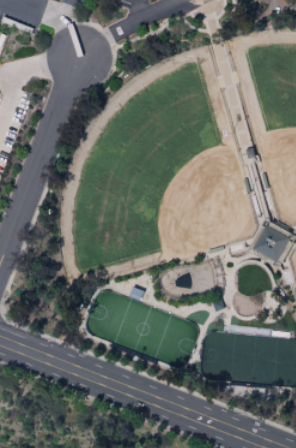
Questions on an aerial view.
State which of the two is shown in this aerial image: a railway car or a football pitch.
football pitch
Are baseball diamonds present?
Yes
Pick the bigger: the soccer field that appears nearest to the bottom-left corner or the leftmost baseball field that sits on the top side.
the baseball field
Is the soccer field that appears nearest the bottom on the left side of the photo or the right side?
right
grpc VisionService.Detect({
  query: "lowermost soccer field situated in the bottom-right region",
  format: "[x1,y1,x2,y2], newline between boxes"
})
[200,332,296,387]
